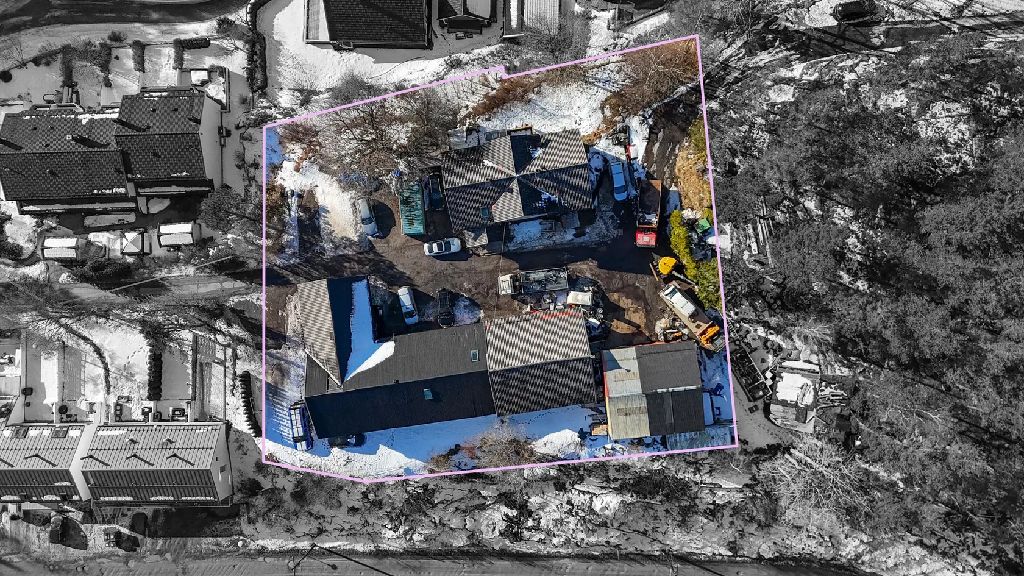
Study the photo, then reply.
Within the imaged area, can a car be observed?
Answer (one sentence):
Yes, the photo shows a car.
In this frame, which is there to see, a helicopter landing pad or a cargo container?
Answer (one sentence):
I can see a cargo container in this picture.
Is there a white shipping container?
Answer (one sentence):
No, the picture doesn't show any white shipping container.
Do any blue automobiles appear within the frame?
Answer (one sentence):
Yes, a blue automobile appears in the view.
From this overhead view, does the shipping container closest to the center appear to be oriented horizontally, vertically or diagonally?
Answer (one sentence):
What the image shows is the shipping container closest to the center lying vertically.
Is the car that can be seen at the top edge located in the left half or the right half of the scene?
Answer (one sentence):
It is on the right.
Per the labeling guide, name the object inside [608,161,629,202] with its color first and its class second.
blue car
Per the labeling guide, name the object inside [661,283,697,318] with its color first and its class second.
white car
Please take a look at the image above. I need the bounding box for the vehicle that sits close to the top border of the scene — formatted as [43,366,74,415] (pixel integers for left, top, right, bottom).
[832,0,875,22]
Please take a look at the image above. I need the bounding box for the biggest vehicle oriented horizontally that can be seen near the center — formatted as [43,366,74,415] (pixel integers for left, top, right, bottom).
[496,265,569,299]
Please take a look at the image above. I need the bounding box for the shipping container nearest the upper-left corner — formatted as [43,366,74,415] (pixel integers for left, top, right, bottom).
[402,183,428,235]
